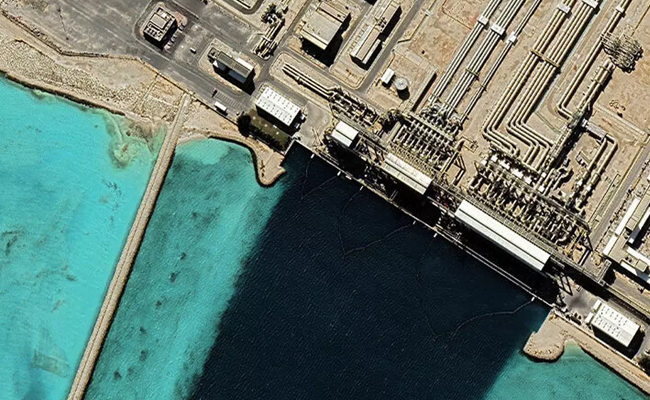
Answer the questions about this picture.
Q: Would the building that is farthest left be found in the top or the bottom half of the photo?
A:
top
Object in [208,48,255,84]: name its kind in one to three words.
building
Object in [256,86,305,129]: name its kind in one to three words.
building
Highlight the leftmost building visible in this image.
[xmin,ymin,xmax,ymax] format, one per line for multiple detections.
[143,6,178,43]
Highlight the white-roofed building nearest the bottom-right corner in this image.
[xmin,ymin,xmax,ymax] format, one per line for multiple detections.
[583,300,640,349]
